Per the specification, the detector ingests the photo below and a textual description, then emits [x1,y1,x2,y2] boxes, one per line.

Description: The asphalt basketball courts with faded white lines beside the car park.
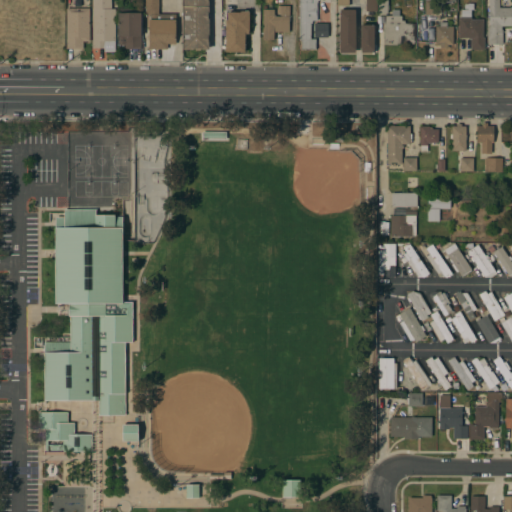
[69,132,132,206]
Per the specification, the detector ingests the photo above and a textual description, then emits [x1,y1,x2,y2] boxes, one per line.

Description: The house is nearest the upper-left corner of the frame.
[67,8,91,50]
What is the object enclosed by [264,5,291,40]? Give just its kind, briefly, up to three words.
house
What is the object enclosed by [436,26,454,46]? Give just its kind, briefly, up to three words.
house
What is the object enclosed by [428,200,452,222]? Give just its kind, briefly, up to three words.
barn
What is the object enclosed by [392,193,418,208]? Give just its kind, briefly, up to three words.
building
